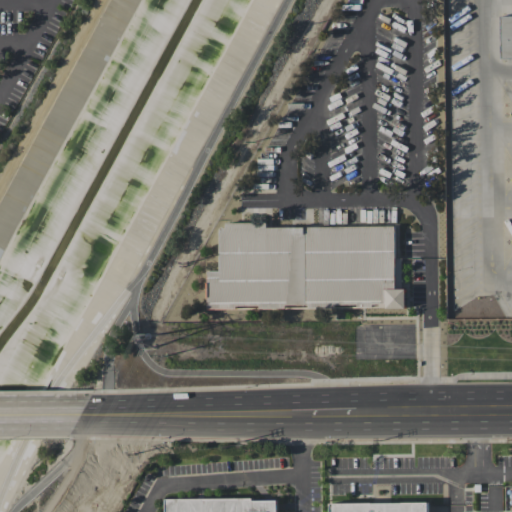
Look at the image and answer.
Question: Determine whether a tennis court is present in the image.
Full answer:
No, there's no tennis court here.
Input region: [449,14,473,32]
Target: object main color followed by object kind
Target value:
white vehicle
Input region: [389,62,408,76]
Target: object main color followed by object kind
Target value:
white camper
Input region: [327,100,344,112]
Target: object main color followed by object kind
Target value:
white vehicle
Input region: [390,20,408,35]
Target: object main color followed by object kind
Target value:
white camper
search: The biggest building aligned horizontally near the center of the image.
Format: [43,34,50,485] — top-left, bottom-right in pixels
[208,223,404,310]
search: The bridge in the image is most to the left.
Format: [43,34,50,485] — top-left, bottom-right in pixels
[0,390,114,439]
